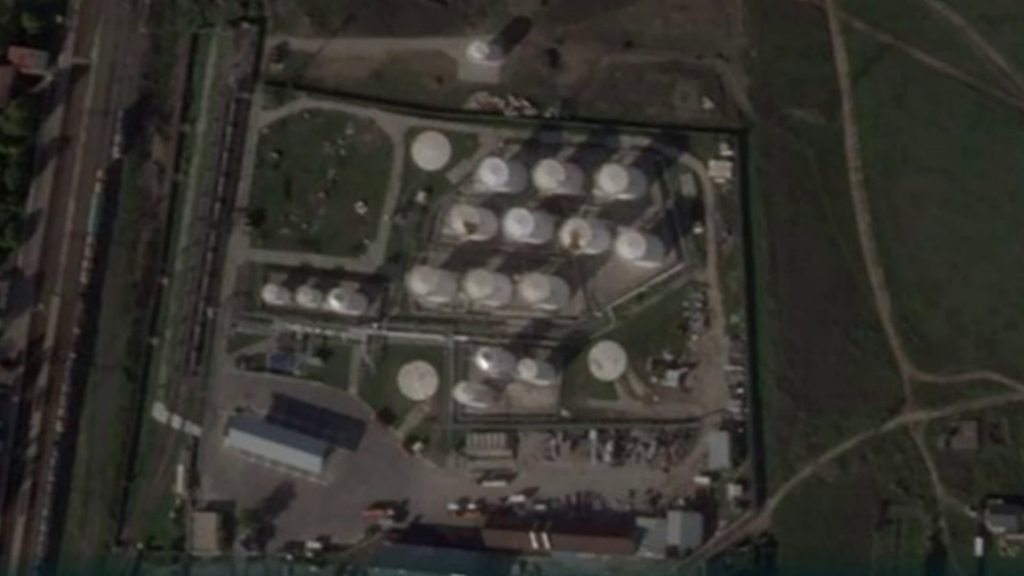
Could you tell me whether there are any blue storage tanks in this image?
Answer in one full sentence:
No, there isn't any blue storage tank down there.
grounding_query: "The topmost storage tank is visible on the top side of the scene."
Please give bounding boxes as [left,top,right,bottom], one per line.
[466,40,505,69]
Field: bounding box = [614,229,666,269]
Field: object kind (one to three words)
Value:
storage tank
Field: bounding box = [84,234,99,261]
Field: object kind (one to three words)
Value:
rail car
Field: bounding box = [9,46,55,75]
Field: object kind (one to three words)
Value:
house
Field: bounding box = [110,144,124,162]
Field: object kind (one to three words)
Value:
rail car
